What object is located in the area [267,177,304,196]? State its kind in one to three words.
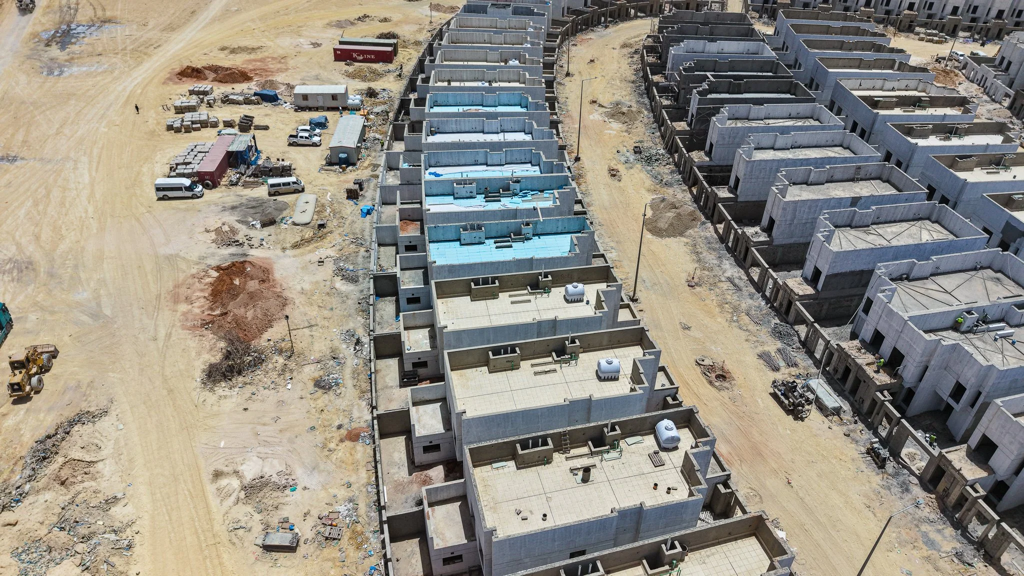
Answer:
vehicle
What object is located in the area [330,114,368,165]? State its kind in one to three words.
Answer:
building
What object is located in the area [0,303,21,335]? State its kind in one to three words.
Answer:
truck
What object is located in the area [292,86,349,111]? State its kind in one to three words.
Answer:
building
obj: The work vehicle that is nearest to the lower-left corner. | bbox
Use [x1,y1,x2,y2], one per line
[0,342,63,398]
